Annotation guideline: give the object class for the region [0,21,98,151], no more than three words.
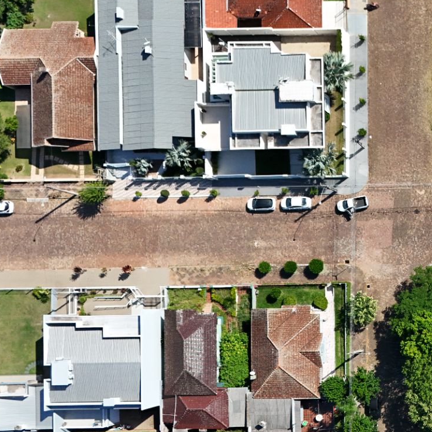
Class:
house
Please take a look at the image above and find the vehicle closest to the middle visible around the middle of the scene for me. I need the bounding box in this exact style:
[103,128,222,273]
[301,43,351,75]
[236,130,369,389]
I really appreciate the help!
[248,196,276,212]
